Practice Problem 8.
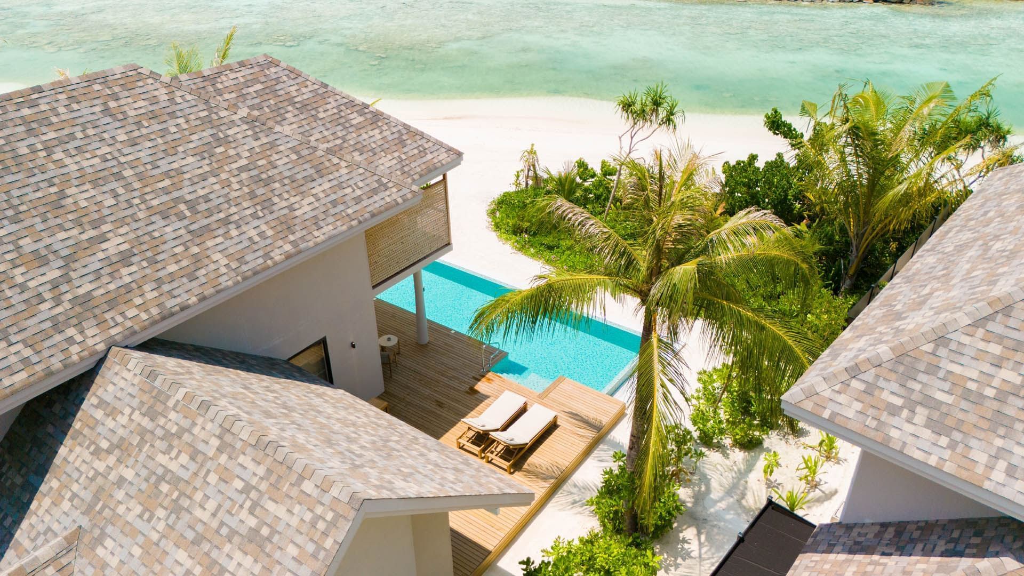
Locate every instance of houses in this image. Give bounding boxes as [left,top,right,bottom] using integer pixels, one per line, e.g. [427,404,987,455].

[777,163,1024,576]
[0,54,535,576]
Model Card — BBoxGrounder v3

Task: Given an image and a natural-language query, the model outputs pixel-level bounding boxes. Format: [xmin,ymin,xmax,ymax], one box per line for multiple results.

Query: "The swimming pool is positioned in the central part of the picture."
[374,259,661,399]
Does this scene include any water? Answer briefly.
Yes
